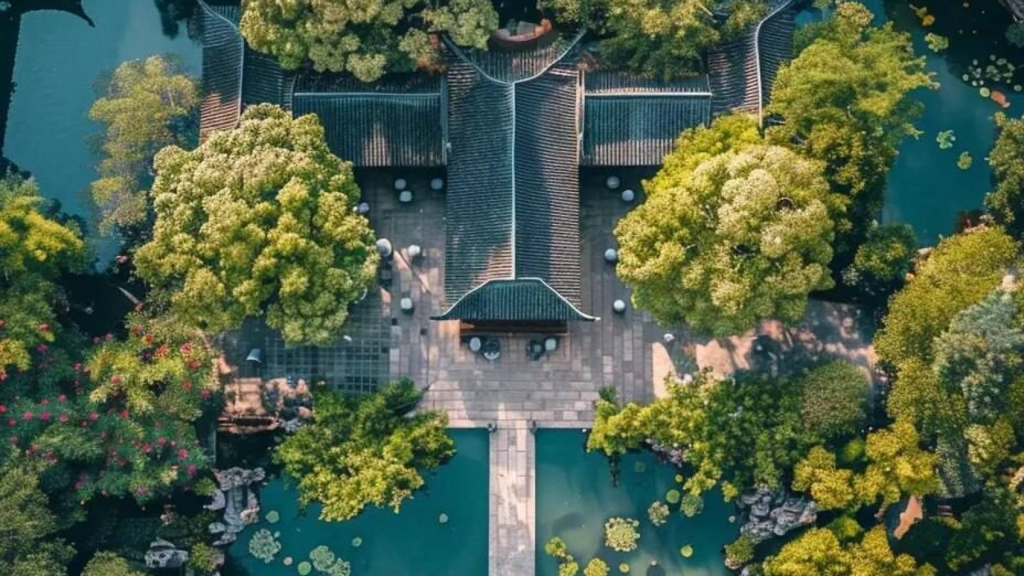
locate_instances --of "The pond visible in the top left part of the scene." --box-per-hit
[1,0,201,282]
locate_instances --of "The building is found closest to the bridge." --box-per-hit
[425,41,601,336]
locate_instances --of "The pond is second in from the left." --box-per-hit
[219,416,739,576]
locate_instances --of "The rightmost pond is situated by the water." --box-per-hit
[794,0,1024,249]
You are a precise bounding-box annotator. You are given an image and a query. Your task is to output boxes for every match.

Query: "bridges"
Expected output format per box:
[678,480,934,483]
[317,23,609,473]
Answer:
[489,428,535,576]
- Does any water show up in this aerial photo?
Yes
